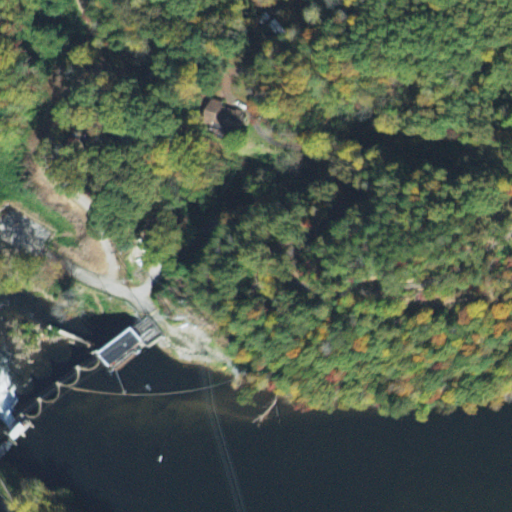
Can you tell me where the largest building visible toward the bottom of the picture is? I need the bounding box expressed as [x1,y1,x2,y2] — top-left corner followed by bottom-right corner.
[97,326,145,370]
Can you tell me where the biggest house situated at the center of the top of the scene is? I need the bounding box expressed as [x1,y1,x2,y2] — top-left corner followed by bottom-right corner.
[204,99,242,134]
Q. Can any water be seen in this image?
Yes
